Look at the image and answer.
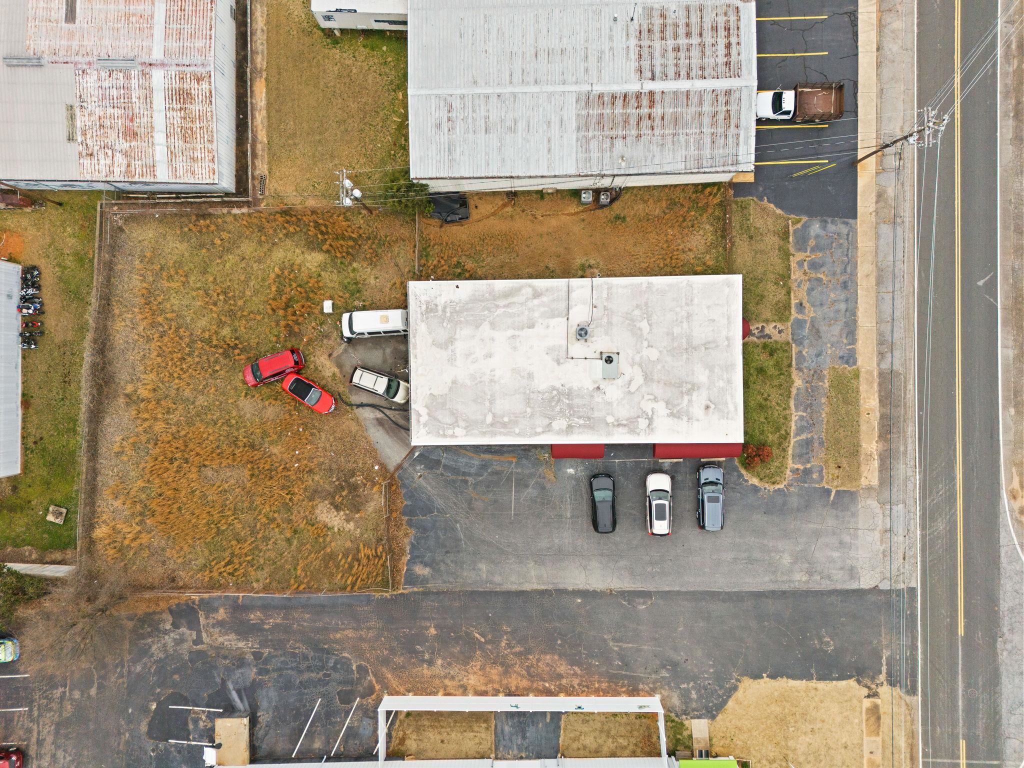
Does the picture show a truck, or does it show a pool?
truck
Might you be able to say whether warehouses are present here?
Yes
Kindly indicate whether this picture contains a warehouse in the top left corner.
Yes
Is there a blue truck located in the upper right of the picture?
No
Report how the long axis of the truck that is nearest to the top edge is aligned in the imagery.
from left to right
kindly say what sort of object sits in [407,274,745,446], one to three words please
building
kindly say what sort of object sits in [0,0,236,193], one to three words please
warehouse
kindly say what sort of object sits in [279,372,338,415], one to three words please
car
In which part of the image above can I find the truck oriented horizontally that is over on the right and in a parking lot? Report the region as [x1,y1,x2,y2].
[757,83,841,123]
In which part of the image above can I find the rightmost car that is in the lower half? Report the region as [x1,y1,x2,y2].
[694,464,728,532]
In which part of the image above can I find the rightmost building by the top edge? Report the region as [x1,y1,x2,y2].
[403,0,758,195]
